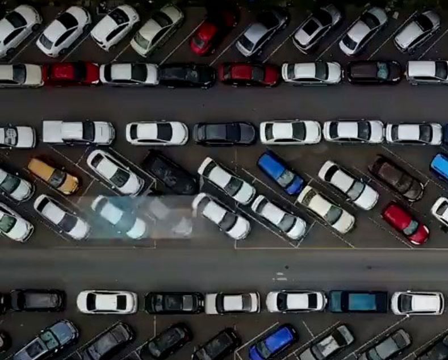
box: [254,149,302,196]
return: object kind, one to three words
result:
car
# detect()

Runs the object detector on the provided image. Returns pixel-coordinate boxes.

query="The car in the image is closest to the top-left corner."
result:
[0,6,43,59]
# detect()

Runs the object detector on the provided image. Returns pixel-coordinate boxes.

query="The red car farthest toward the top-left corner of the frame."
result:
[40,59,100,87]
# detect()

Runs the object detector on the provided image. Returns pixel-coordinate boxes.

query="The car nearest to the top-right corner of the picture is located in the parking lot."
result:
[394,9,442,54]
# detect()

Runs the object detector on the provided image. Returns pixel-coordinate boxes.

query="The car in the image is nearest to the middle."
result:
[199,159,256,206]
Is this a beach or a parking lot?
parking lot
